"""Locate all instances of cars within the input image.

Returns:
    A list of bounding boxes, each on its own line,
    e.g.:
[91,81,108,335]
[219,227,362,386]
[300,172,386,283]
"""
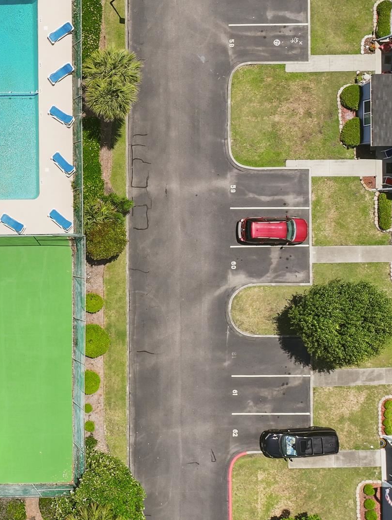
[260,426,337,459]
[236,215,308,246]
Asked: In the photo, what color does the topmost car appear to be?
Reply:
red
